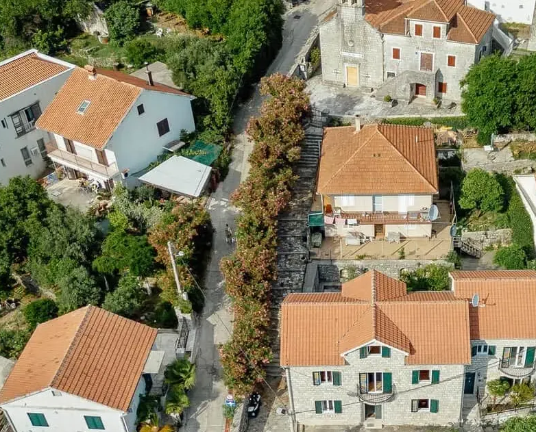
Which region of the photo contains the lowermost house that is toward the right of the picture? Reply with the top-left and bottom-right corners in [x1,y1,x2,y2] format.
[281,259,536,432]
